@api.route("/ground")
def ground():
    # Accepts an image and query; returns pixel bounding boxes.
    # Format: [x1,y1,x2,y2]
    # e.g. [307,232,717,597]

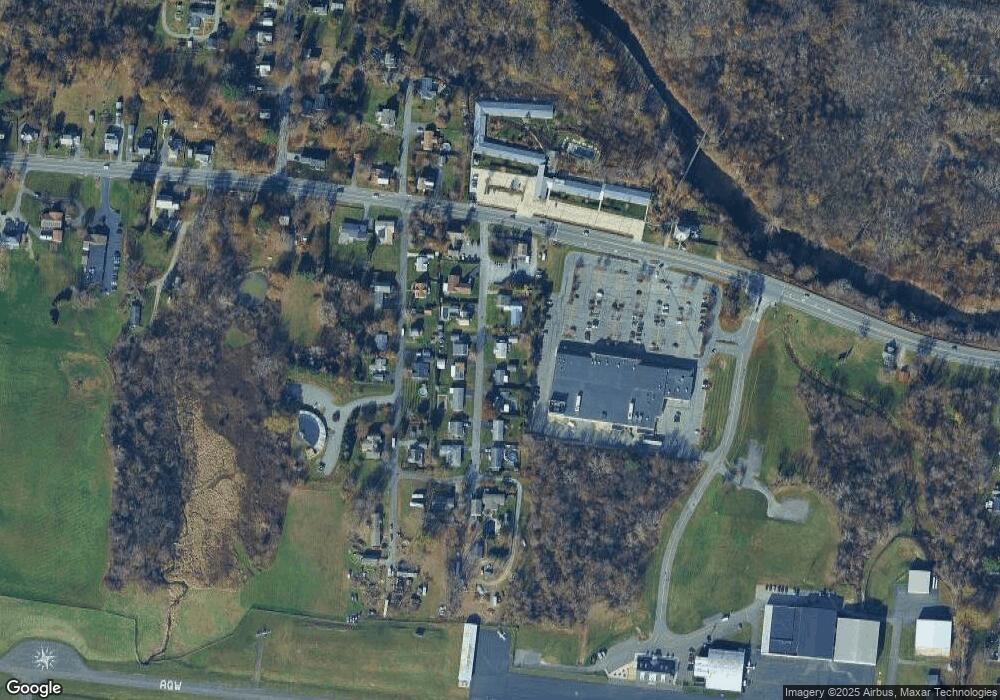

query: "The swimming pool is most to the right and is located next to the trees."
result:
[571,144,595,159]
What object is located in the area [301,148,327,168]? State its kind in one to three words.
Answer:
house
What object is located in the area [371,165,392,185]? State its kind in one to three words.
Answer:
house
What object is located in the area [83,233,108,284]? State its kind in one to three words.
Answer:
building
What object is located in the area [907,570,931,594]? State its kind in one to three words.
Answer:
hangar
